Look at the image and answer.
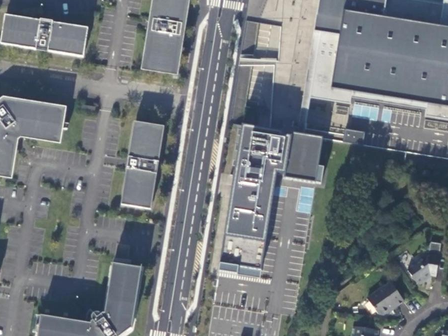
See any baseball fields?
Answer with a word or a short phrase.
No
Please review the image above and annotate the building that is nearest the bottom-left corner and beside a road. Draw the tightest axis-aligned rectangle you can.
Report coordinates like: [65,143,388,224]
[34,260,144,336]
